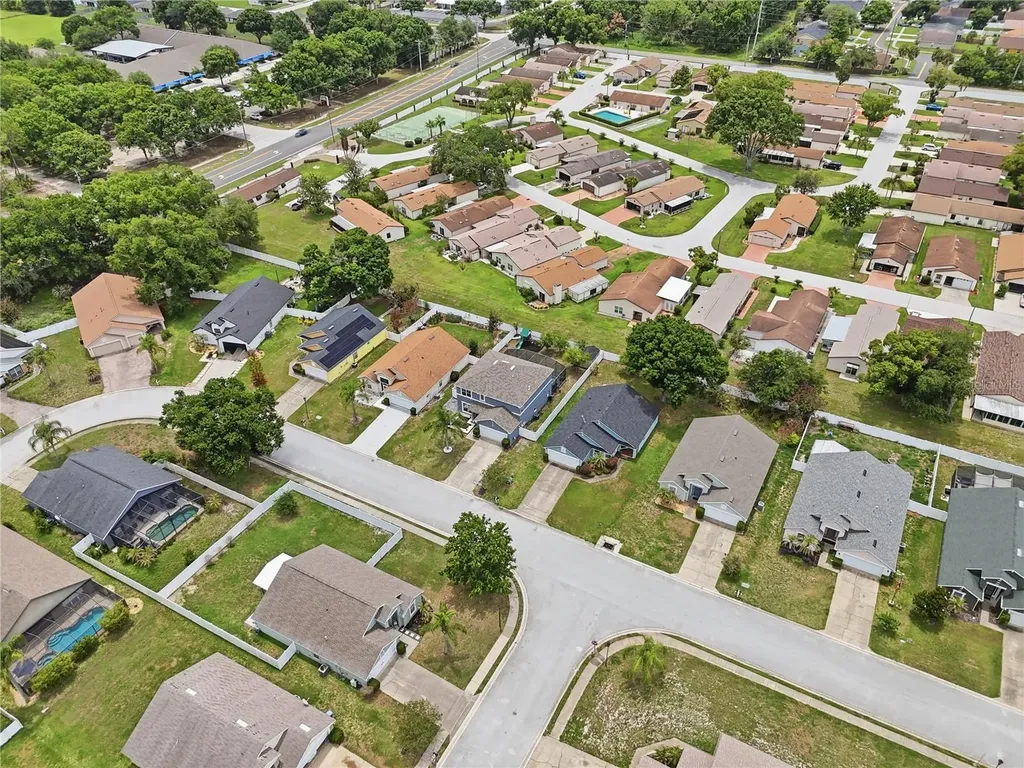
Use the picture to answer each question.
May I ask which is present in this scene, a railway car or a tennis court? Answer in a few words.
tennis court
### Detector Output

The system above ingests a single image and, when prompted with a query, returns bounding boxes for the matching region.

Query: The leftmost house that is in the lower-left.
[0,530,86,645]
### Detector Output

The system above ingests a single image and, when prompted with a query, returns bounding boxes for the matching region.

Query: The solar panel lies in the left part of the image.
[320,314,375,368]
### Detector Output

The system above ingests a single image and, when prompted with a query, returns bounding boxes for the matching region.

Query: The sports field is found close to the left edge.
[0,11,79,45]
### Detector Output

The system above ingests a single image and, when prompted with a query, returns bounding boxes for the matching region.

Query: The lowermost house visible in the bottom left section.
[122,649,340,768]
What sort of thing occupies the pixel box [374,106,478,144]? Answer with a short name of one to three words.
tennis court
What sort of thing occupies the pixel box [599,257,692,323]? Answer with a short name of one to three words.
house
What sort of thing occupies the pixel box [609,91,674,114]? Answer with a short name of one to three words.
building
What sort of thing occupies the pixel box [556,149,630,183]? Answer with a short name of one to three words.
house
